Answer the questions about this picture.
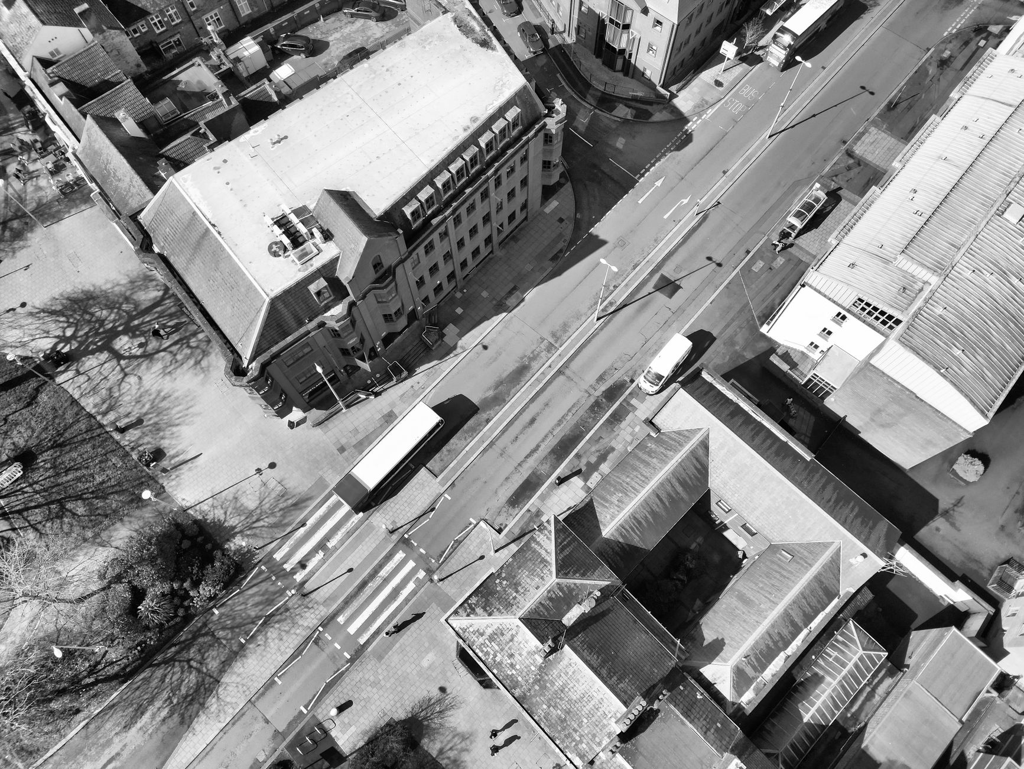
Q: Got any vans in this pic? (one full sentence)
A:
Yes, you can see a van in this photo.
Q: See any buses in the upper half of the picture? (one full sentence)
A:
Yes, there is a bus in the upper half of the picture.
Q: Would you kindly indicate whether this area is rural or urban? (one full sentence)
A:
The area is urban.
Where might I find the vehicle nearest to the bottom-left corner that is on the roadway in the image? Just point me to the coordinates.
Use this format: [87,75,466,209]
[332,403,444,517]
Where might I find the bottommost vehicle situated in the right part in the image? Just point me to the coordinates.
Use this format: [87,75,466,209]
[640,328,693,391]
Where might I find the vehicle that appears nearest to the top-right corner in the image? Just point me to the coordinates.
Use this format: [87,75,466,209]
[765,0,840,70]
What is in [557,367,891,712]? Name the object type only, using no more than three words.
building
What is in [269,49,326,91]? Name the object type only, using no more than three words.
truck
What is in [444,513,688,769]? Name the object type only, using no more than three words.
house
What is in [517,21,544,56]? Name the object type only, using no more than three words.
car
